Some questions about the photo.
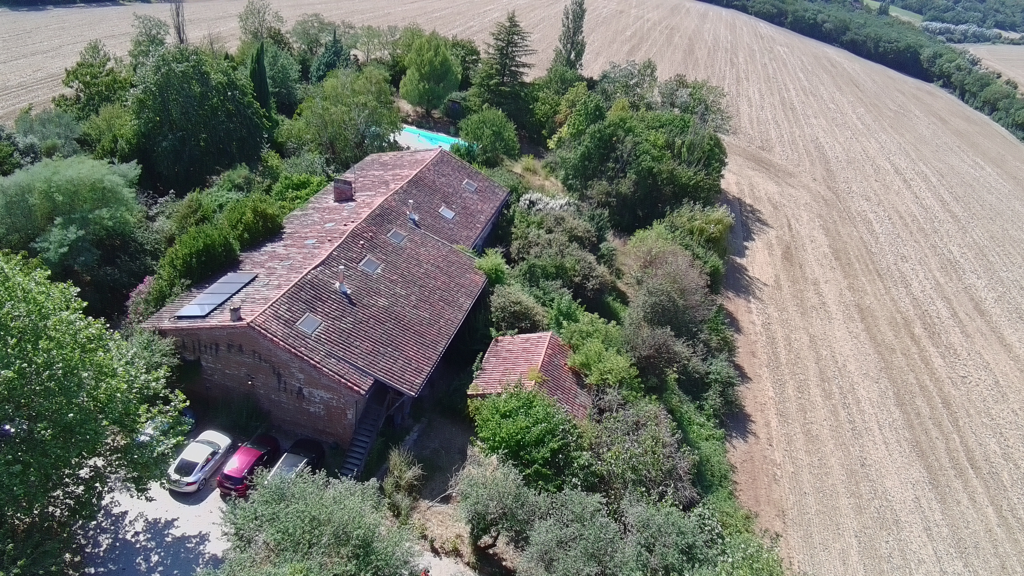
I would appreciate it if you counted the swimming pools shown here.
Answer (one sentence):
In total, 1 swimming pool can be seen.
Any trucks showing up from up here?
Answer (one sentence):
No, no truck is visible in the scene.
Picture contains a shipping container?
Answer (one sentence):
No, I find no shipping container anywhere in the image.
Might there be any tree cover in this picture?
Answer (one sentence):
Yes, there is tree cover in the image.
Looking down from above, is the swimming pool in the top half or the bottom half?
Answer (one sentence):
The swimming pool sits in the top half of the picture.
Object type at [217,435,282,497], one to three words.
car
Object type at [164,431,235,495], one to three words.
car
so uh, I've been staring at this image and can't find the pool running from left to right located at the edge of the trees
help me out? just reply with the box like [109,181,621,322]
[377,118,503,168]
